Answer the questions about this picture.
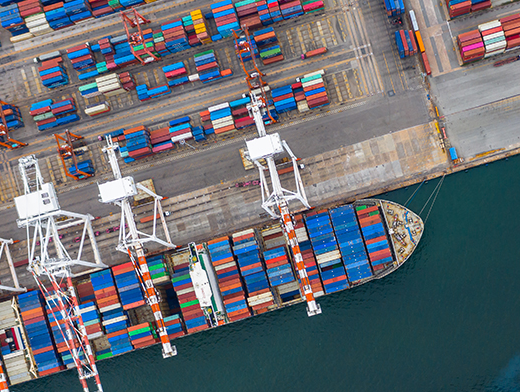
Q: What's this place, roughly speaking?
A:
port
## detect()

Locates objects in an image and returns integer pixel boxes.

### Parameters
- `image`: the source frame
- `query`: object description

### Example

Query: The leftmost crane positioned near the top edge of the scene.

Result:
[121,5,162,66]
